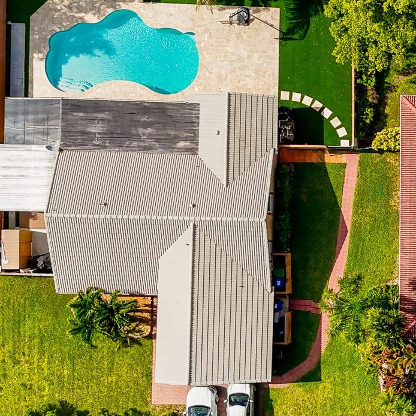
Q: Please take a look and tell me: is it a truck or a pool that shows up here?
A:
pool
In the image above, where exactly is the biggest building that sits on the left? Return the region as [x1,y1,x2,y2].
[5,91,277,387]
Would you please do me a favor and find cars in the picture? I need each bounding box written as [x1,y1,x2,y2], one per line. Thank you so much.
[181,387,217,416]
[219,384,254,416]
